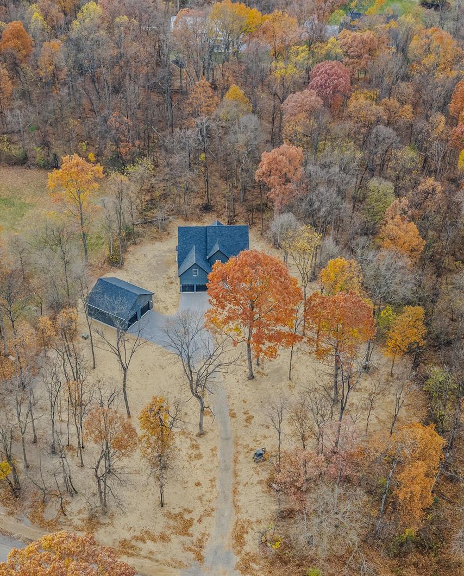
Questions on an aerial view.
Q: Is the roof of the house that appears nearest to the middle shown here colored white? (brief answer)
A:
No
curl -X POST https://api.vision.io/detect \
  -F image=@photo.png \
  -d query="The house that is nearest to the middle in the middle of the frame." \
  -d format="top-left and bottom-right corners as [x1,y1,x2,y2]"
[174,218,251,295]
